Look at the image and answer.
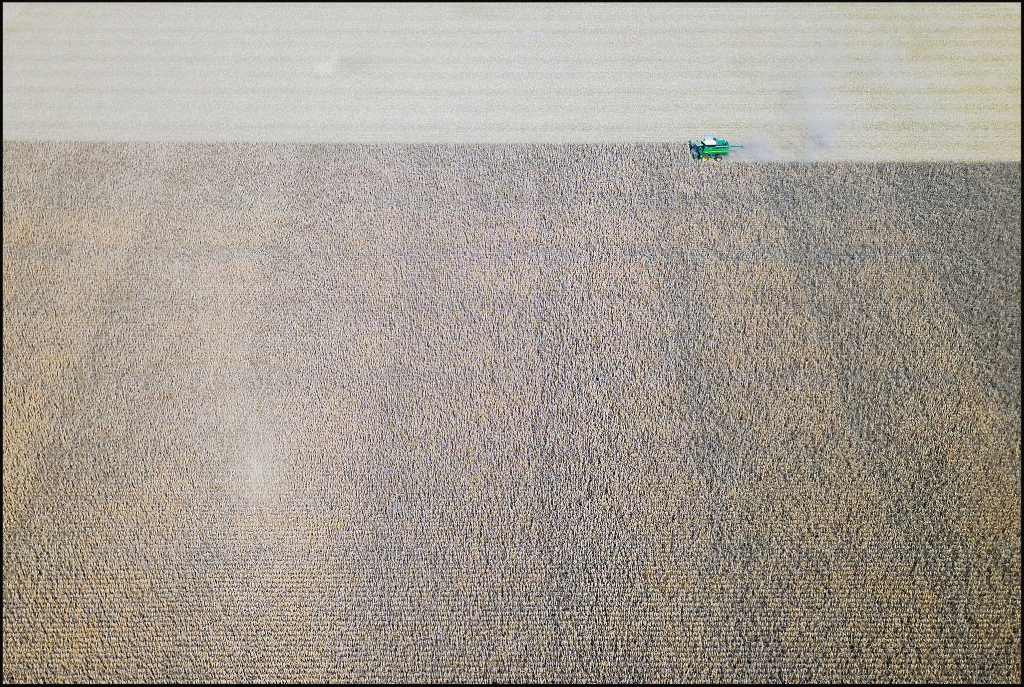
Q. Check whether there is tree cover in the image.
No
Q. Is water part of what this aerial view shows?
No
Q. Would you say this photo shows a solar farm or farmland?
farmland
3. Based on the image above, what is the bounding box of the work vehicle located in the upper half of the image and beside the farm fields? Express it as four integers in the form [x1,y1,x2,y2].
[682,135,744,168]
